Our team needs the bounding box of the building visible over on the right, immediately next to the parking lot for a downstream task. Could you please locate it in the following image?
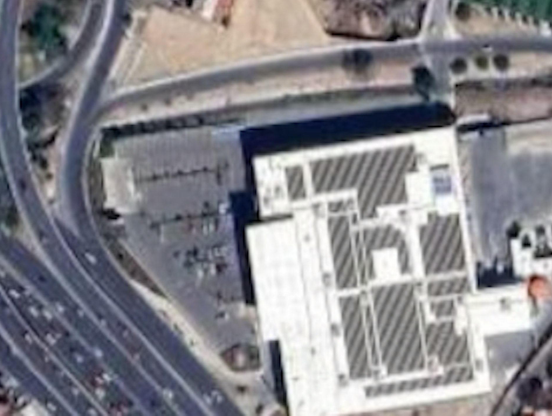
[229,124,533,416]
